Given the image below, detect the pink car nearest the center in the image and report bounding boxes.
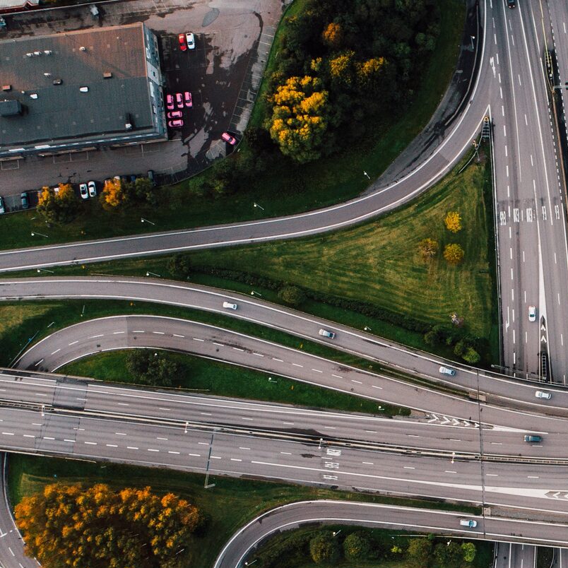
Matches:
[220,131,238,144]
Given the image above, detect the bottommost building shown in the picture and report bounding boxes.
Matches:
[0,22,170,161]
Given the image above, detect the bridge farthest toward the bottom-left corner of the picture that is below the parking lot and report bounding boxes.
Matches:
[0,365,52,464]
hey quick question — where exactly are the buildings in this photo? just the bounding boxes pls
[0,0,50,14]
[0,22,170,161]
